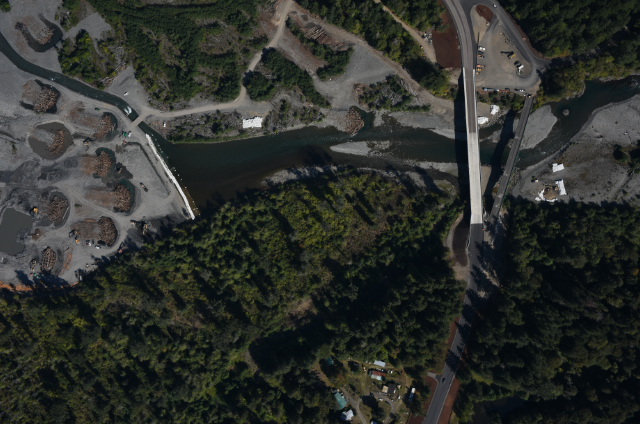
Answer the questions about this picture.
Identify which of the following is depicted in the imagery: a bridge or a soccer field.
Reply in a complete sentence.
I can see a bridge in this picture.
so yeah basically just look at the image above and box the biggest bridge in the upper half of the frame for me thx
[462,65,482,222]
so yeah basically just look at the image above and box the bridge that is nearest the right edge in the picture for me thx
[494,91,535,208]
